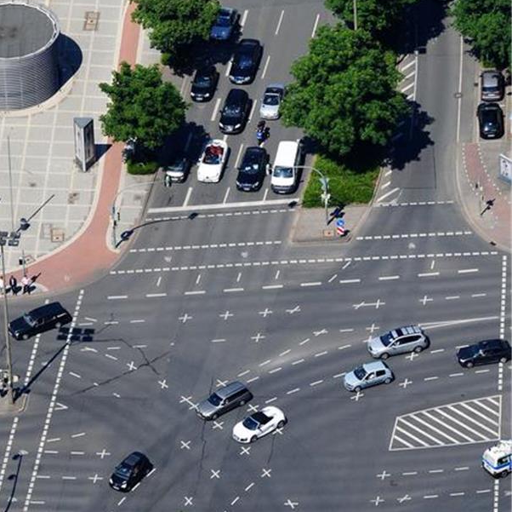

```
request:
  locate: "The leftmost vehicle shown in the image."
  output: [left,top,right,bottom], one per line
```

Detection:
[6,297,74,342]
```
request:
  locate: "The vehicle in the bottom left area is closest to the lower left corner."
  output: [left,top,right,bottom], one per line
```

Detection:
[108,448,155,491]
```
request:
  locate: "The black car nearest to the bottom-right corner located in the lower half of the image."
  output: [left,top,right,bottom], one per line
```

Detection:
[455,336,512,371]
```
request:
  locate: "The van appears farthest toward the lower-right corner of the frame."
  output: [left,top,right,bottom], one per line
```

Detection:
[479,441,512,480]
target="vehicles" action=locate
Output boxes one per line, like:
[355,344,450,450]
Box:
[219,89,251,132]
[479,441,512,480]
[478,64,507,104]
[477,101,505,137]
[341,358,397,395]
[257,79,286,123]
[163,142,194,182]
[365,323,433,359]
[235,147,267,190]
[189,61,219,102]
[108,448,155,491]
[229,39,261,82]
[455,336,512,371]
[270,137,302,192]
[196,140,227,179]
[195,376,255,422]
[6,297,74,342]
[229,403,290,443]
[210,2,239,41]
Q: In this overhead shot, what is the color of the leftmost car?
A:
black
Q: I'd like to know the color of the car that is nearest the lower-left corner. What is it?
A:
black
